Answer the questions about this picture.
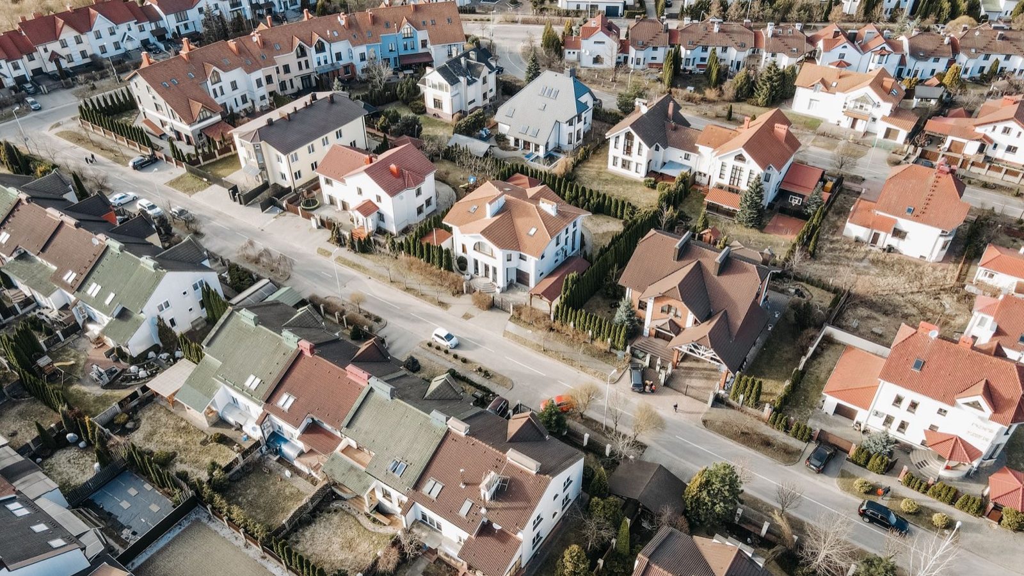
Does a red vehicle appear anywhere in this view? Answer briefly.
Yes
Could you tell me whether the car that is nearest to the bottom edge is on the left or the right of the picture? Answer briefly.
right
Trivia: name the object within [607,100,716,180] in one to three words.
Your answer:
house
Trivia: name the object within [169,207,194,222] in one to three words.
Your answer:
car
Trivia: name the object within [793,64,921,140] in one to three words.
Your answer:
house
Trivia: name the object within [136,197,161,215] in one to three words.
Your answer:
car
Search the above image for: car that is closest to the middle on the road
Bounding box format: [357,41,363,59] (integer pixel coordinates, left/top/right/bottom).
[429,328,459,351]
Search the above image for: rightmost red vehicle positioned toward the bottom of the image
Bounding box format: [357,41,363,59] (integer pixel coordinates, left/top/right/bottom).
[540,395,576,415]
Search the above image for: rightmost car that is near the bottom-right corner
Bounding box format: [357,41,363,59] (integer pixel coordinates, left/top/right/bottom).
[855,501,911,540]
